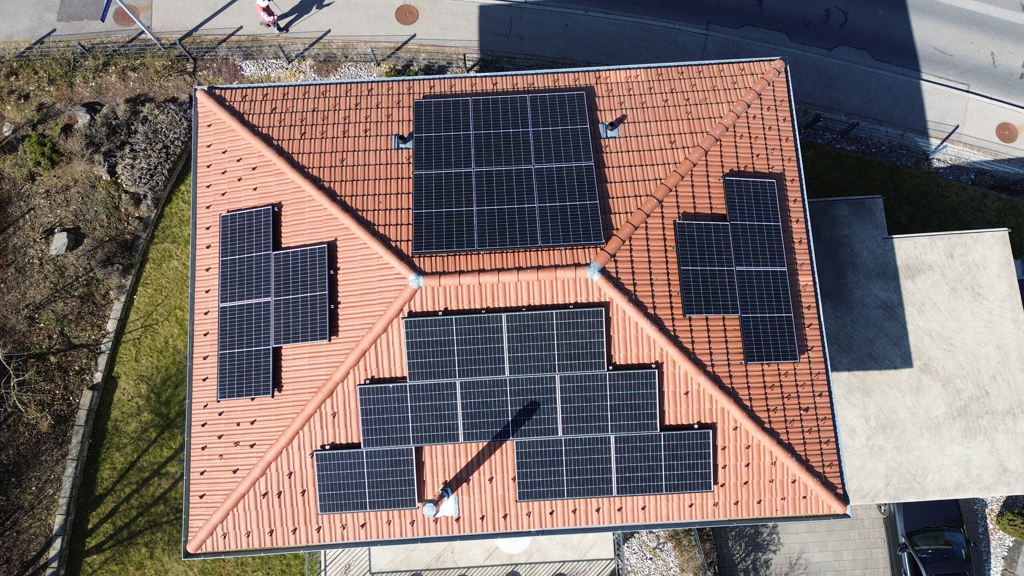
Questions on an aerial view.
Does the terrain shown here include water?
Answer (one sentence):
No, there's no water in this view.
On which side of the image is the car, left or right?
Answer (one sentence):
The car is on the right side of the image.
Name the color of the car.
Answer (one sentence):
From above, the car appears black.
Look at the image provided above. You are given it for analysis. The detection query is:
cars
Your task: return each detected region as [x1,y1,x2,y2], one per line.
[872,498,982,576]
